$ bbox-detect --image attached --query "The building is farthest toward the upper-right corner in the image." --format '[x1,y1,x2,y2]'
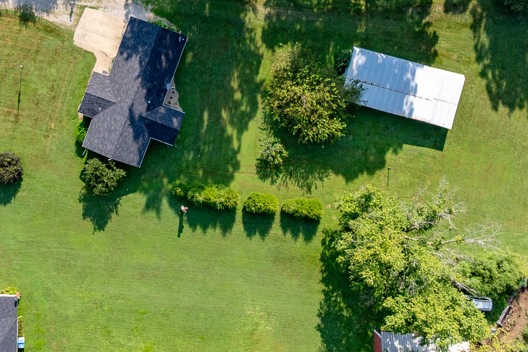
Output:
[337,47,464,133]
